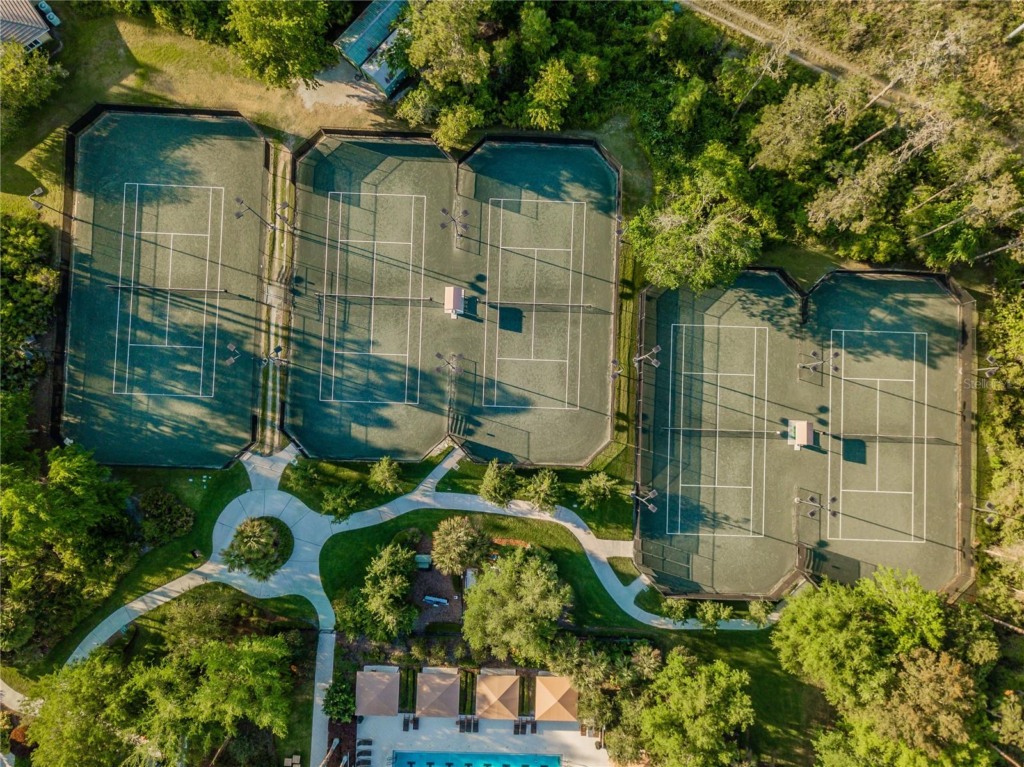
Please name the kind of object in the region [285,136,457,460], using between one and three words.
tennis court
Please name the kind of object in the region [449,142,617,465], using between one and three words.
tennis court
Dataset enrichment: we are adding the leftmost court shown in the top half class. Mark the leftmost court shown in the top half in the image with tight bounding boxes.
[60,113,263,467]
